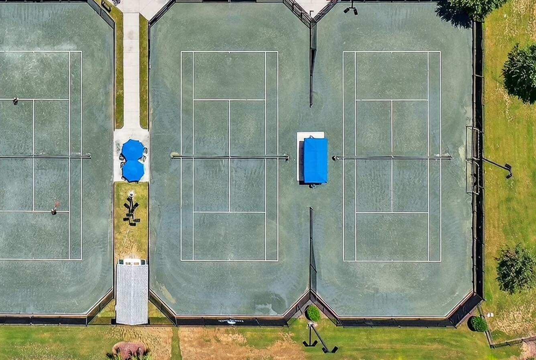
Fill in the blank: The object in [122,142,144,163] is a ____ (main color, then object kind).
blue umbrella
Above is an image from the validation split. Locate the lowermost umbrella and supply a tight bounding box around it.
[122,162,144,184]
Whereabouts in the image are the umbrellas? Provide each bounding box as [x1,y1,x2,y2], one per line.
[122,142,144,163]
[122,162,144,184]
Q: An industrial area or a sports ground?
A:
sports ground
